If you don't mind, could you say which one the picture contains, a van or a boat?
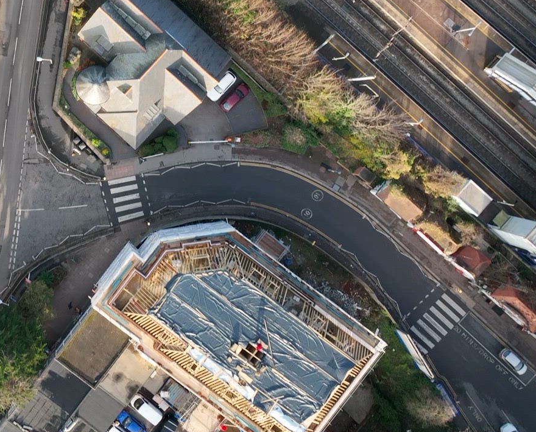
van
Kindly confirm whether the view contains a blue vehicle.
Yes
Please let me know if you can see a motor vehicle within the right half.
Yes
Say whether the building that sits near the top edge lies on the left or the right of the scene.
left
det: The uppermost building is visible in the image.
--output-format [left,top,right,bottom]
[74,0,232,150]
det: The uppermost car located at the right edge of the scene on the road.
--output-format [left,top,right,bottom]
[496,345,529,376]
